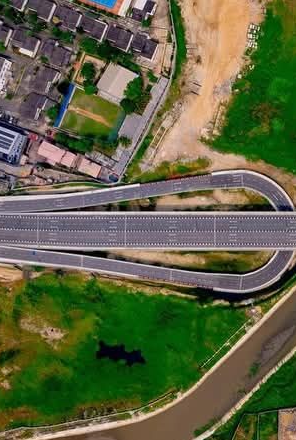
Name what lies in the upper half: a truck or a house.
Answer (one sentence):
You can see a house in the upper half.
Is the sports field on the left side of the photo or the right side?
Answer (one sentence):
It is on the left.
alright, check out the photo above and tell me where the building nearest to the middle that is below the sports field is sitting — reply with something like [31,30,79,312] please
[78,158,105,179]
